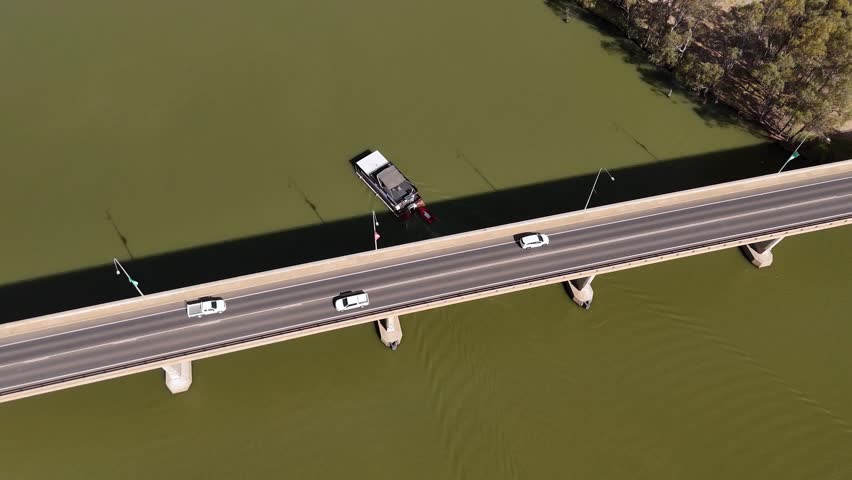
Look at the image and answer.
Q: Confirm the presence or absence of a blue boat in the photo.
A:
No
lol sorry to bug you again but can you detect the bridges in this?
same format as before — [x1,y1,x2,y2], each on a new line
[0,157,852,401]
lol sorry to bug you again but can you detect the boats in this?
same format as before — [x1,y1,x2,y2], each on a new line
[356,151,422,220]
[417,206,431,225]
